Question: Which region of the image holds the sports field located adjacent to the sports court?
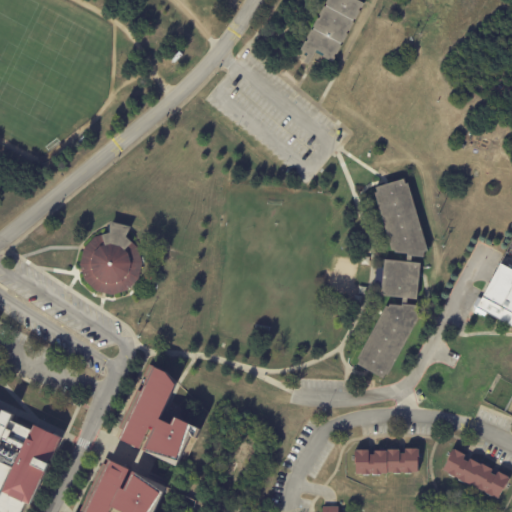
center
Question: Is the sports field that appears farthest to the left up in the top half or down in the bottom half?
top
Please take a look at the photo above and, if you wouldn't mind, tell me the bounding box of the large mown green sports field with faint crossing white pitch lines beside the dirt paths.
[0,0,106,130]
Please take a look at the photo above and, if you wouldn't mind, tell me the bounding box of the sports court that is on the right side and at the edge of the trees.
[330,256,358,283]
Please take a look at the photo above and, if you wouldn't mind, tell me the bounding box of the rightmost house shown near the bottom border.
[444,448,510,498]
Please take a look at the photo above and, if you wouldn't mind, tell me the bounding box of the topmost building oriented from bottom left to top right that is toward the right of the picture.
[302,0,366,63]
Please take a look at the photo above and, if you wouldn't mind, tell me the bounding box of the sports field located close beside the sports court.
[234,197,336,353]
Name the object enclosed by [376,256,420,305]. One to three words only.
building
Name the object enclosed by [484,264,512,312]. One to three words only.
building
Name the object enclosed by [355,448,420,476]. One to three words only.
house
